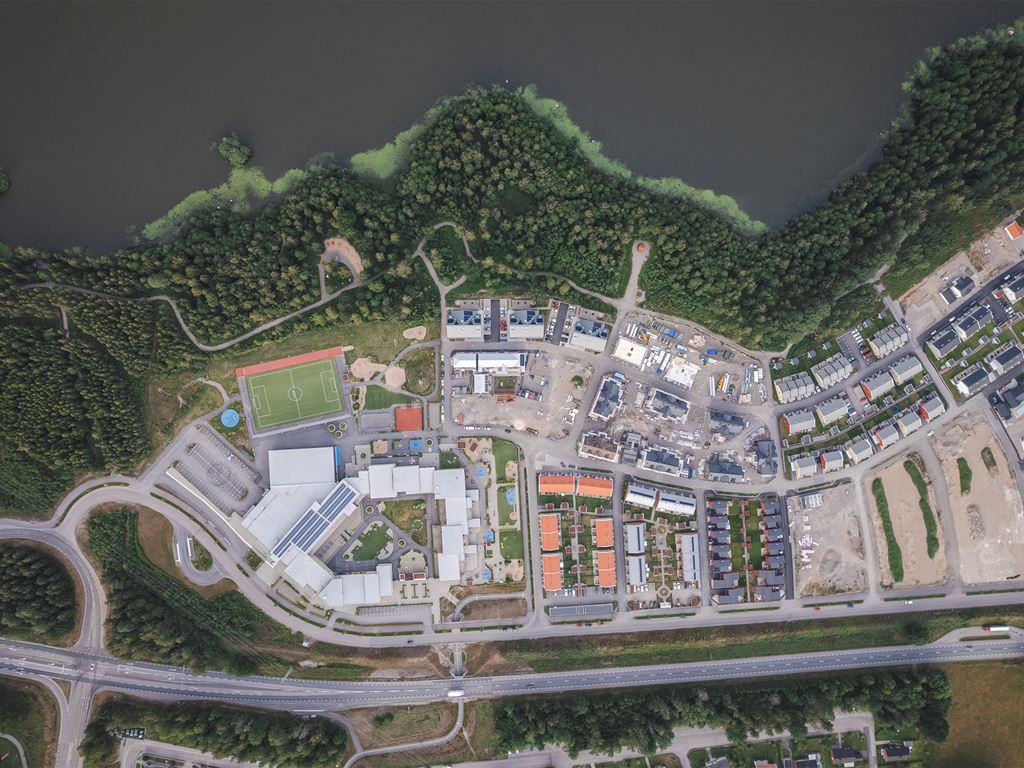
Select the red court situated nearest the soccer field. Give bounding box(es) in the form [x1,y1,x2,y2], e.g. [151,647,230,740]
[396,406,422,432]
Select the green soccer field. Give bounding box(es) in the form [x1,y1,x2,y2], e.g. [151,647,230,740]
[237,354,351,438]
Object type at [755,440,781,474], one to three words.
house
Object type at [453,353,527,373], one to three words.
building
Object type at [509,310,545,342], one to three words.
house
